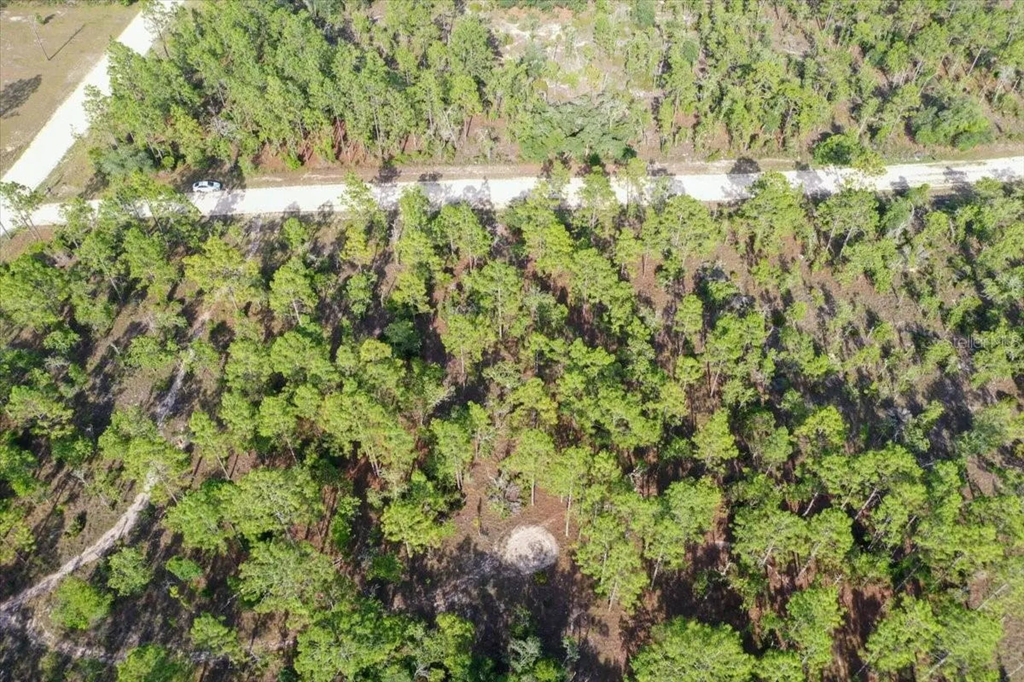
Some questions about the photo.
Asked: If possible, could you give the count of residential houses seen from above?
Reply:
0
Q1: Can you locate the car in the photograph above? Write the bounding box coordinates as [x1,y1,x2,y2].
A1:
[191,181,222,193]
